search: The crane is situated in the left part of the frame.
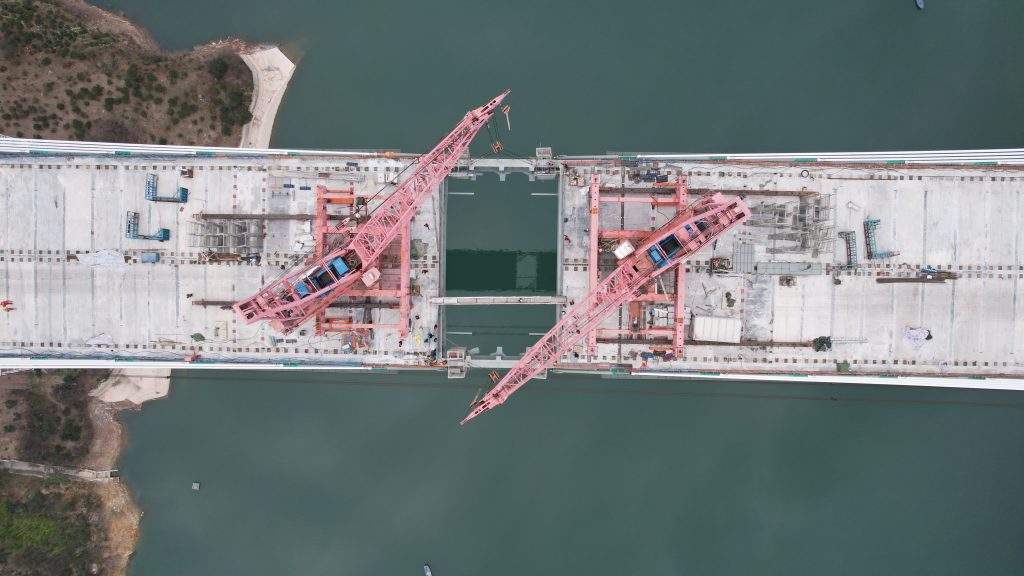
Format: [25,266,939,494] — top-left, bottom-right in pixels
[233,88,515,337]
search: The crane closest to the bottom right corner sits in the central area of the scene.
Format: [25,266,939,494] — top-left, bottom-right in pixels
[458,174,753,426]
